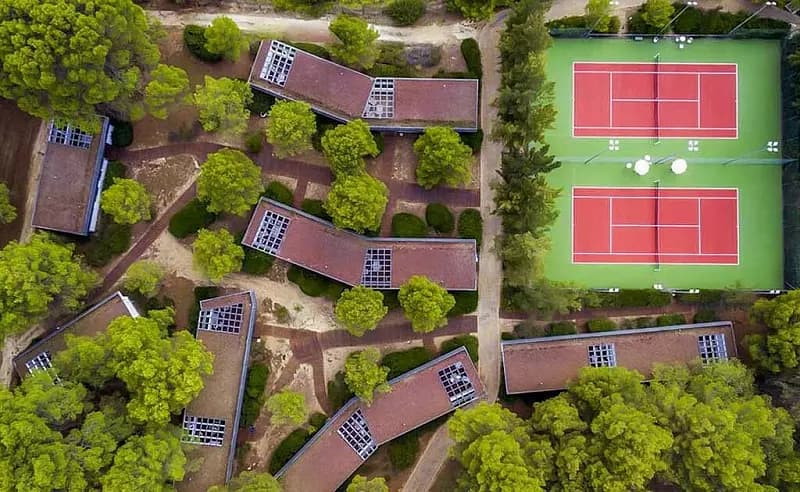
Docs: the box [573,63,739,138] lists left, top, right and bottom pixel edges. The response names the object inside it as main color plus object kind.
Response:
red tennis court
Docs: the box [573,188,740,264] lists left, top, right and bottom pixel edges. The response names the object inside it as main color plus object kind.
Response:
red tennis court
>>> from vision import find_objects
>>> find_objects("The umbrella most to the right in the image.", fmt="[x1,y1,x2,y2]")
[669,159,686,173]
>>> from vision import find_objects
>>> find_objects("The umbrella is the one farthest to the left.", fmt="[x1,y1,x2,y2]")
[633,159,648,174]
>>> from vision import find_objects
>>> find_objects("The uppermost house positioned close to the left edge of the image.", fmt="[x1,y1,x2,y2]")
[31,105,111,236]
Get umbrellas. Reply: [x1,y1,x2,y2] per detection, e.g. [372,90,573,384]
[633,159,648,174]
[669,159,686,173]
